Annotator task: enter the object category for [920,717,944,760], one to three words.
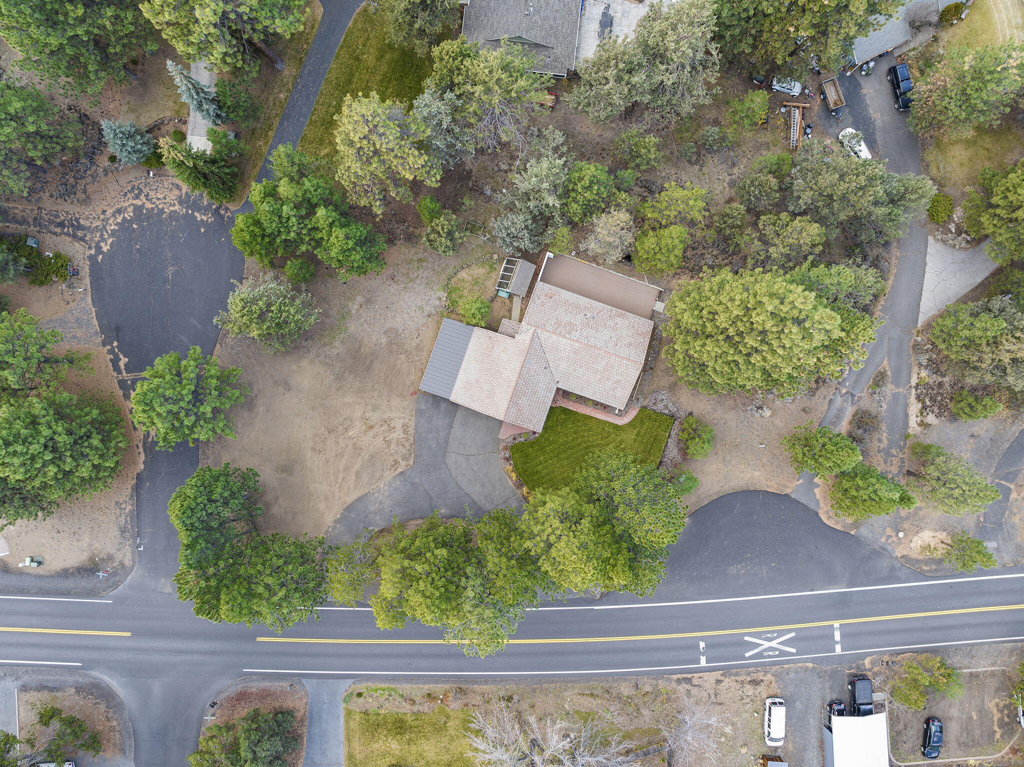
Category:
car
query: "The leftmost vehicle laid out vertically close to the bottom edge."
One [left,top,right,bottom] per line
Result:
[763,694,787,745]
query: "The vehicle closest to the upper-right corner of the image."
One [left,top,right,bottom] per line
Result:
[886,61,913,113]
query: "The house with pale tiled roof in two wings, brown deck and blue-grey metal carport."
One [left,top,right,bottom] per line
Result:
[419,249,667,433]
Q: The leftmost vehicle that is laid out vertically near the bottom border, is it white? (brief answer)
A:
Yes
